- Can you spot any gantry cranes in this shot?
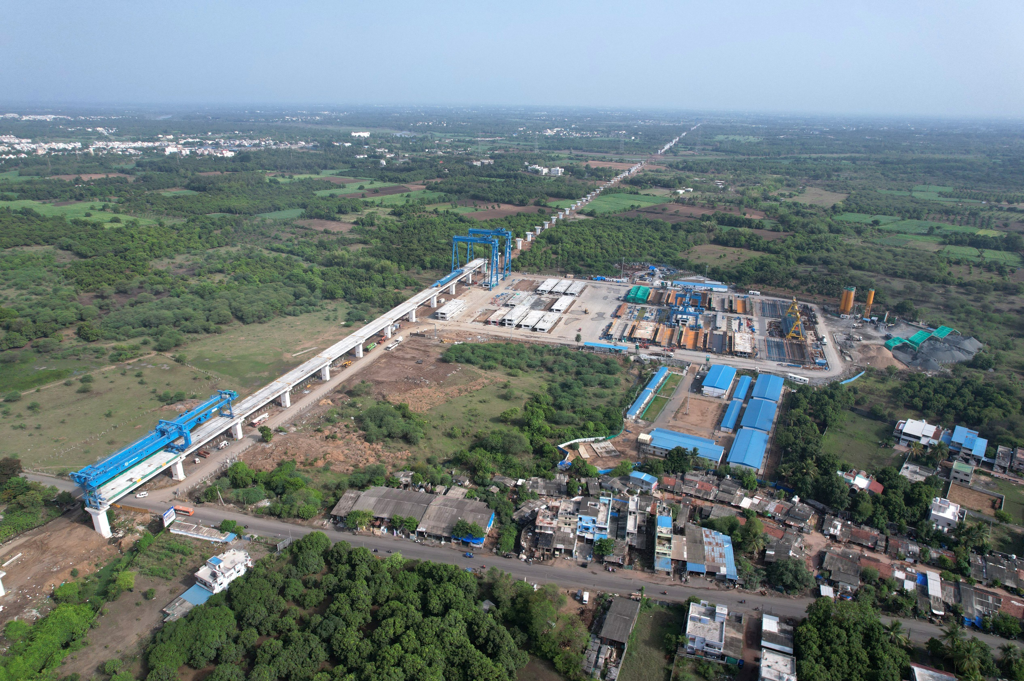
Yes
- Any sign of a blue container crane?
Yes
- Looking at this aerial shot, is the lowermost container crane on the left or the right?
left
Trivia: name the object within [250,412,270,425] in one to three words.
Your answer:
vehicle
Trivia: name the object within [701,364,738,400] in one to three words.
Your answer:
shed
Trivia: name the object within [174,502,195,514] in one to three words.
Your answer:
vehicle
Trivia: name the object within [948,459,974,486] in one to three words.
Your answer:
house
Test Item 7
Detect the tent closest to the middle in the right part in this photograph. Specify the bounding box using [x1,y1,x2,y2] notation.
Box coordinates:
[626,286,654,306]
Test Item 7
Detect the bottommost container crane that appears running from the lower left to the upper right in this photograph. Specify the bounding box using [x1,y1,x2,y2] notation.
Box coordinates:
[66,388,245,512]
